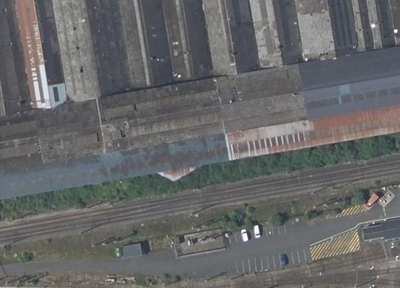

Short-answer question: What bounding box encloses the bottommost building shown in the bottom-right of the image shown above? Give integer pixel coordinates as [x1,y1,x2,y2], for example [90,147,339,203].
[362,218,400,240]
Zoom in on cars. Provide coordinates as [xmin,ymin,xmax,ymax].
[242,229,248,241]
[254,225,260,237]
[281,254,287,266]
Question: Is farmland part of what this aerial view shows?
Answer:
No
